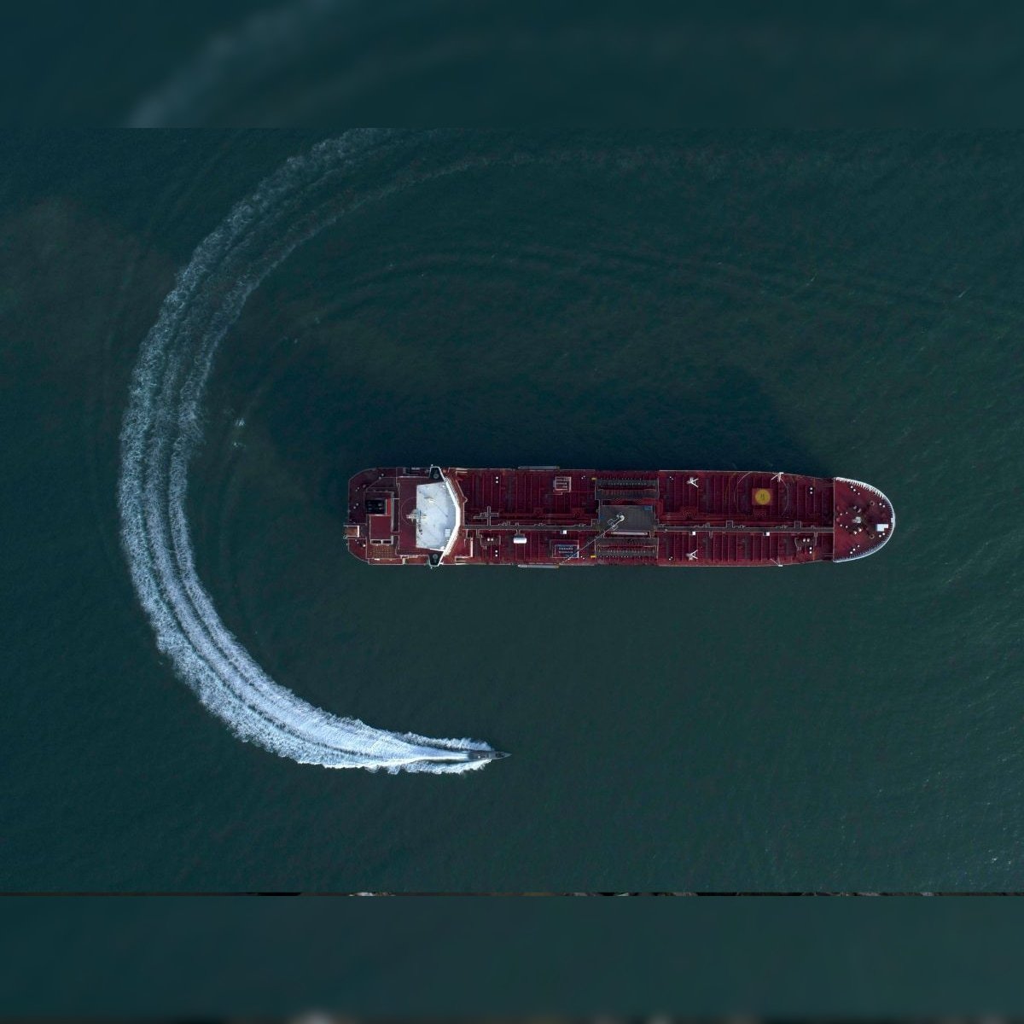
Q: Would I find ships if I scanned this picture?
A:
Yes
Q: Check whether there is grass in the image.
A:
No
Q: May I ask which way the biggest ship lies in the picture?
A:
horizontally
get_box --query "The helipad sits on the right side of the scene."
[736,474,788,519]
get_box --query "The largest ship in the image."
[343,464,896,569]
